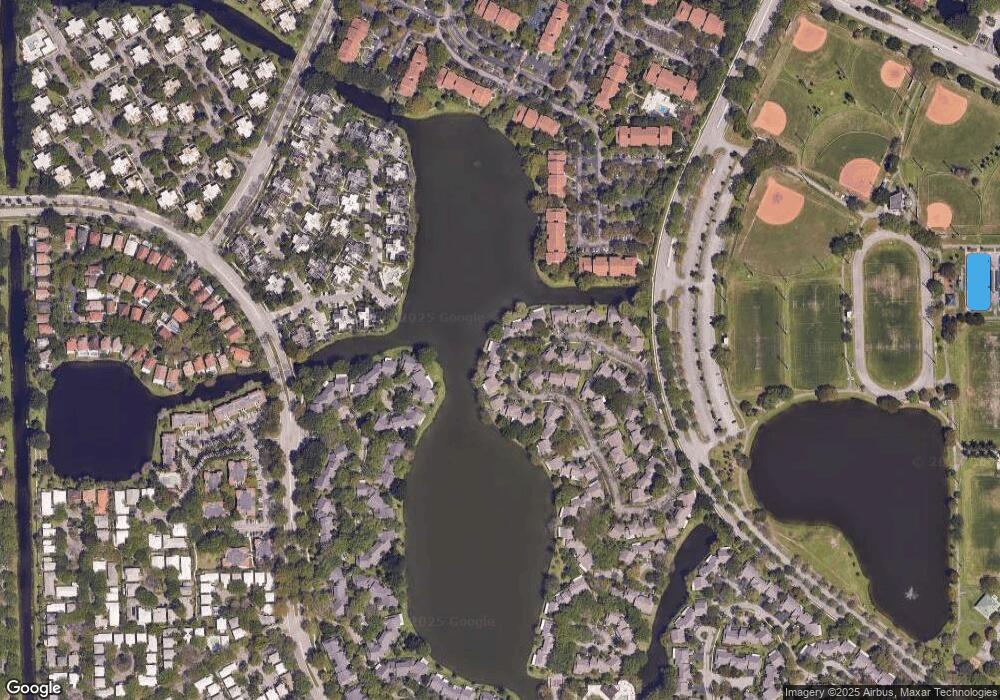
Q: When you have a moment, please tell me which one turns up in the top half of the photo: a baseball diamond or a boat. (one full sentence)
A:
It is a baseball diamond that can be seen in the top half of the photo.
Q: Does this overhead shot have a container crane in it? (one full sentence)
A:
No, I can't see a single container crane in this photo.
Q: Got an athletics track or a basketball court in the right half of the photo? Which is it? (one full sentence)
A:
What appears in the right half of the photo is an athletics track.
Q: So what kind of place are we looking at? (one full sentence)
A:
This looks like a residential area.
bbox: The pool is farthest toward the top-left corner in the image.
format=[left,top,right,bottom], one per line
[24,36,41,53]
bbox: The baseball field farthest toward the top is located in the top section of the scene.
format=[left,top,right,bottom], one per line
[782,8,852,70]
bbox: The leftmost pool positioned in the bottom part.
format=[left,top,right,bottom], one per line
[159,472,181,489]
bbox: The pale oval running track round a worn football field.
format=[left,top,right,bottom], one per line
[854,229,932,396]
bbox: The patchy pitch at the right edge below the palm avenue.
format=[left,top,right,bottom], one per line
[972,474,1000,580]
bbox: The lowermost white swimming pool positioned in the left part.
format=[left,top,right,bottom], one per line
[208,636,221,652]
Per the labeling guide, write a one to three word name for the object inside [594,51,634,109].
building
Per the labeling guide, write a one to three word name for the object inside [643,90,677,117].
swimming pool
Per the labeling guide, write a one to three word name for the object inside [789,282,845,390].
soccer field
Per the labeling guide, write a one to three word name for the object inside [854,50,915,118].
baseball field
